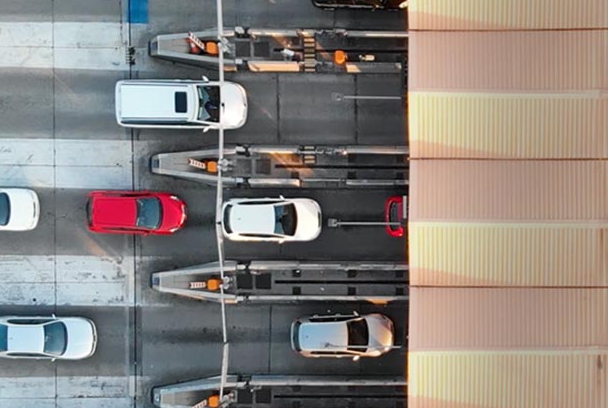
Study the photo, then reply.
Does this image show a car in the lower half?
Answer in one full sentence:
Yes, you'll find a car in the lower half.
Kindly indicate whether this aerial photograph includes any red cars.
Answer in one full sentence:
Yes, looking at the shot, I can spot a red car.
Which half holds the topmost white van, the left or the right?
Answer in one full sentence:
The topmost white van appears in the left half of the scene.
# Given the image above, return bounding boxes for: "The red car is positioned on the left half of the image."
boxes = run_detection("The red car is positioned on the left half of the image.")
[85,188,187,238]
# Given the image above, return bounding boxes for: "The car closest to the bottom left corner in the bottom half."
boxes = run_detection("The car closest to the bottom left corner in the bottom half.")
[0,313,98,364]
